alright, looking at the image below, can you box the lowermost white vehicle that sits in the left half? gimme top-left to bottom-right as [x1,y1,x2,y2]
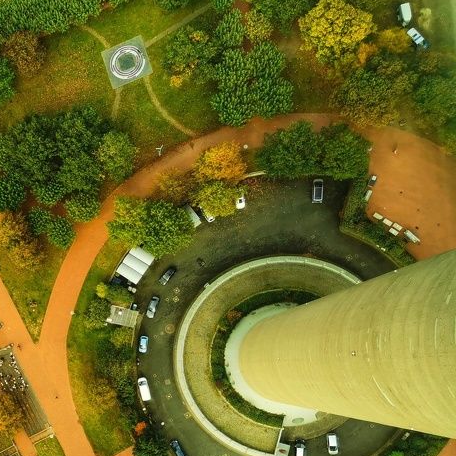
[138,378,151,400]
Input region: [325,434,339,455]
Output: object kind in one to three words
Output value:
vehicle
